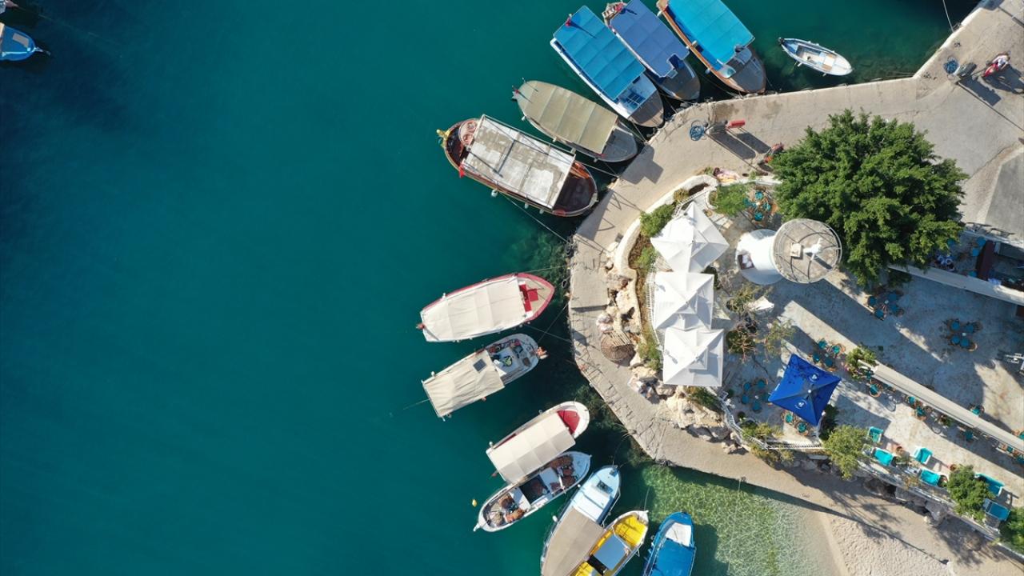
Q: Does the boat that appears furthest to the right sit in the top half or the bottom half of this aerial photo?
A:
top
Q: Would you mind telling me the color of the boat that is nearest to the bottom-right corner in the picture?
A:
blue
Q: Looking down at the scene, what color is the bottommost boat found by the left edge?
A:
blue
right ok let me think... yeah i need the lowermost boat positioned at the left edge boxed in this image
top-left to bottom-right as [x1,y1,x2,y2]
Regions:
[0,23,50,62]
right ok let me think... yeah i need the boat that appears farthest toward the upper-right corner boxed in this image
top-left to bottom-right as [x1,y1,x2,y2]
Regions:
[774,38,854,77]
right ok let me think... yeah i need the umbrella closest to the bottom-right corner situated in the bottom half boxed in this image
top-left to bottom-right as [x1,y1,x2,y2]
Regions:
[767,353,841,425]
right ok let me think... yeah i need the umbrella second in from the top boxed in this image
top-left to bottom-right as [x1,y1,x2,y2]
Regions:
[651,272,715,330]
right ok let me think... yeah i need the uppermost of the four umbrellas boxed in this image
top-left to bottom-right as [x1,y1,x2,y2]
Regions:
[650,201,730,273]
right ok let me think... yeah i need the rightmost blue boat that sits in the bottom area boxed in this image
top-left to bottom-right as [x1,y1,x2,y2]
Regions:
[645,510,696,576]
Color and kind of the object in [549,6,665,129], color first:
blue boat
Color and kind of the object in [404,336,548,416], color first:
white boat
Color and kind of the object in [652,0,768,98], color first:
blue boat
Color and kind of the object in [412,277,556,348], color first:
white boat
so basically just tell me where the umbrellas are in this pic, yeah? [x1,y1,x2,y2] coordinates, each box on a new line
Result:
[662,326,724,387]
[767,353,841,425]
[650,201,730,273]
[651,272,715,330]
